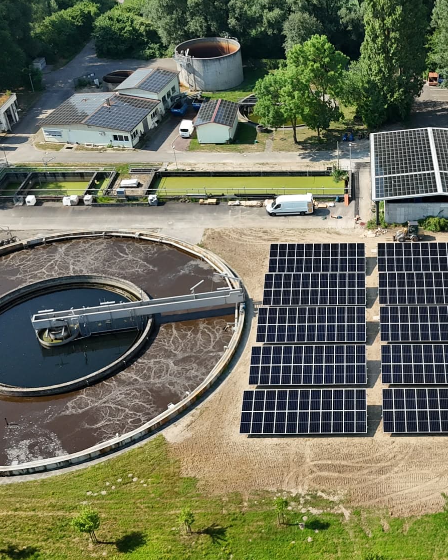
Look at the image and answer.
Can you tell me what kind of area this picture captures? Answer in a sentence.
It's an industrial area.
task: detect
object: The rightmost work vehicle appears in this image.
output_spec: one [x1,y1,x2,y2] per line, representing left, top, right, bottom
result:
[384,219,425,240]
